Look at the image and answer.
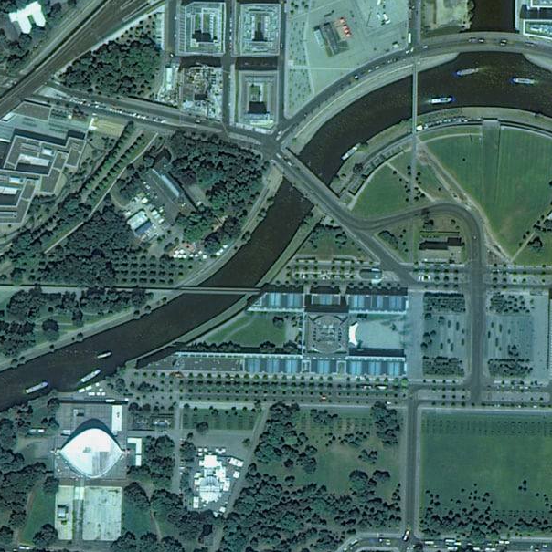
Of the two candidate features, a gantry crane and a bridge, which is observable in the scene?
bridge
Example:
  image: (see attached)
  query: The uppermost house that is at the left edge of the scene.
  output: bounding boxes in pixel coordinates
[9,1,46,33]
